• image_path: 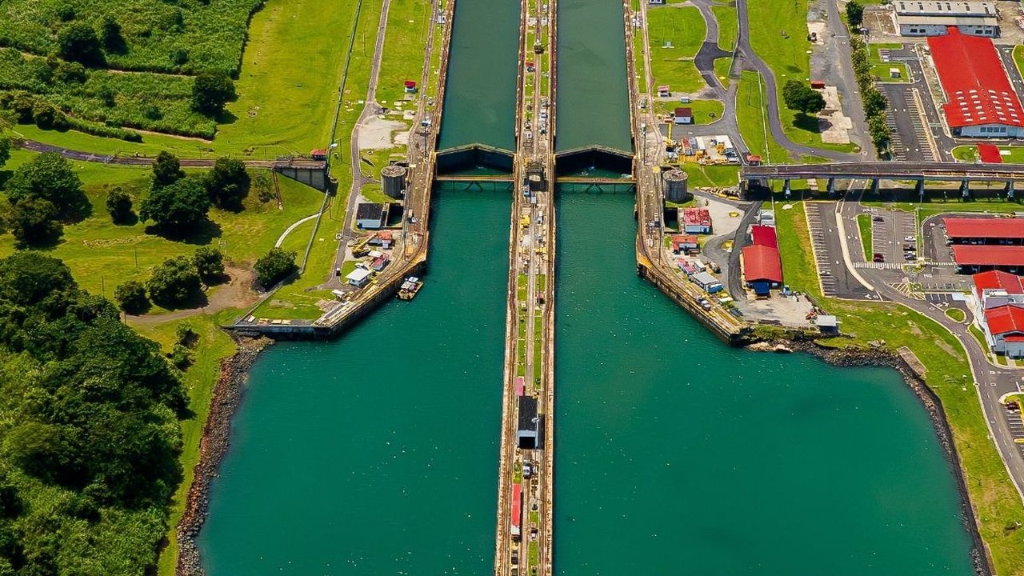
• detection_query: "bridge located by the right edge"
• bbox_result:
[735,159,1024,196]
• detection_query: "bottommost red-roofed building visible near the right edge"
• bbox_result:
[965,270,1024,357]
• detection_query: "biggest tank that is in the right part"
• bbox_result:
[661,167,692,204]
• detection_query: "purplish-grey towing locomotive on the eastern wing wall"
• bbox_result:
[694,293,715,310]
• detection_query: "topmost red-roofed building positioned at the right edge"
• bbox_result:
[925,29,1024,137]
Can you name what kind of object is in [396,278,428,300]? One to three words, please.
ship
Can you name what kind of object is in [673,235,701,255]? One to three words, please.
house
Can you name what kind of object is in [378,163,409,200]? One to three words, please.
storage tank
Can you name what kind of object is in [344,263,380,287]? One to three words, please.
building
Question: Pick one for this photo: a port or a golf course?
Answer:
port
